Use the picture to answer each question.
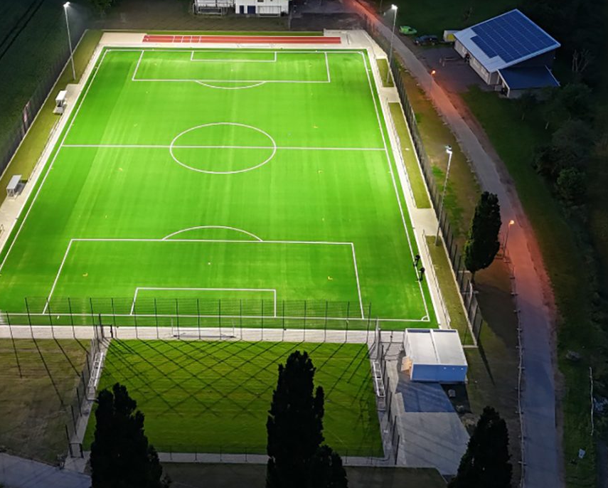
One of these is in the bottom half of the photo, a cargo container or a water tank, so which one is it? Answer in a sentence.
Looking in the bottom half of the photo, you will find a cargo container.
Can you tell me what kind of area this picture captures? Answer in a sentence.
This image shows a sports ground.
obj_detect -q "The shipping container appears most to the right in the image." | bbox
[434,329,470,383]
